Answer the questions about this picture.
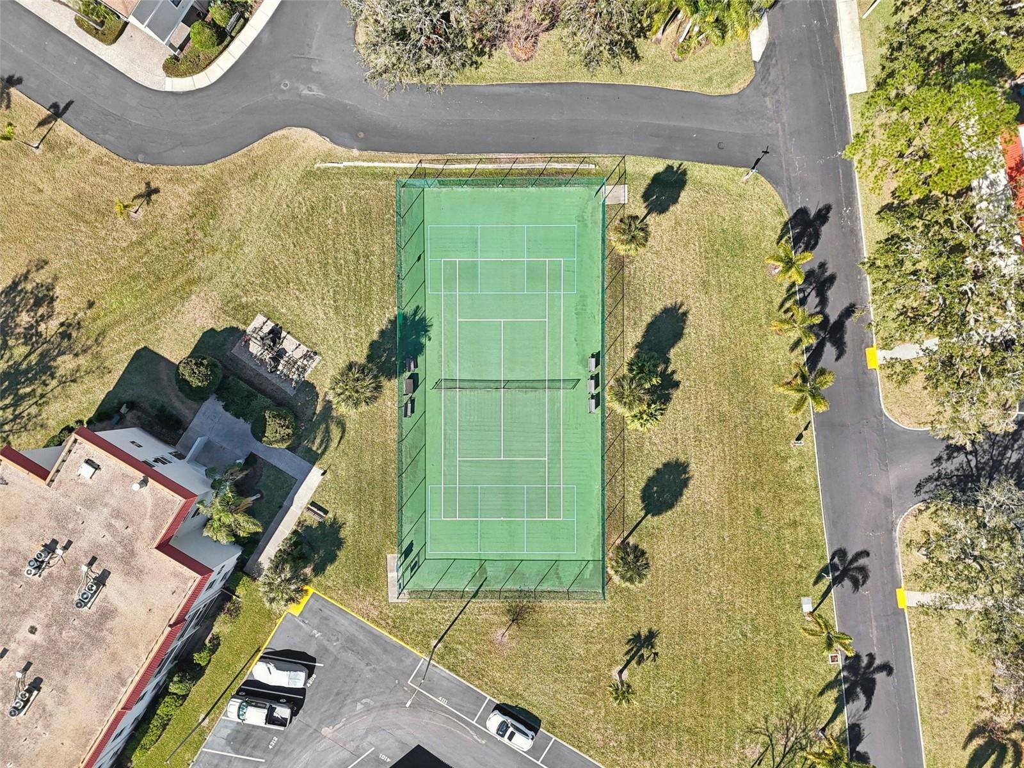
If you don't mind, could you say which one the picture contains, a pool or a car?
car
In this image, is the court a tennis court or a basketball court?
tennis court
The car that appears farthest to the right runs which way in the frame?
at an angle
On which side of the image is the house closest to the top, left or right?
left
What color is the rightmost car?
white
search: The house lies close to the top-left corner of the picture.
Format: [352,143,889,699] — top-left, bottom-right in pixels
[100,0,198,56]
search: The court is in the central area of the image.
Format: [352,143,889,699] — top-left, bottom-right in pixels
[403,187,601,590]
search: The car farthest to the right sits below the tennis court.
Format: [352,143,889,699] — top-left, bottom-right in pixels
[486,712,536,756]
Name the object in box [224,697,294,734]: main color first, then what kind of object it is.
white truck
